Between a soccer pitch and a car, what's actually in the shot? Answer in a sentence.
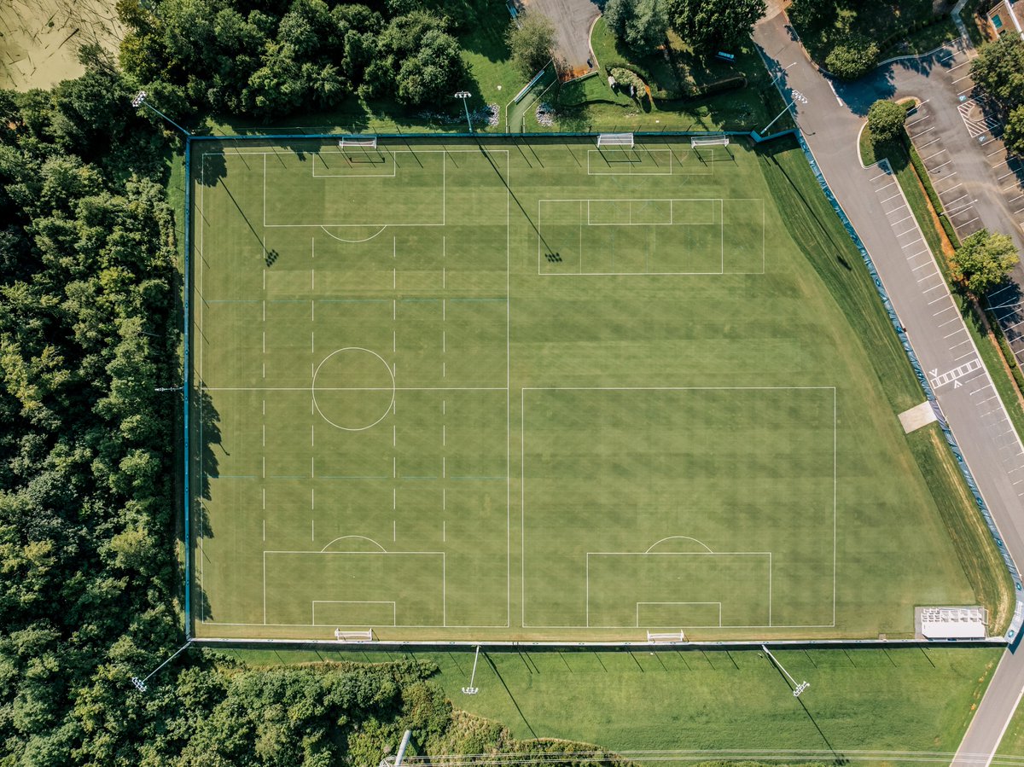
This aerial view contains a soccer pitch.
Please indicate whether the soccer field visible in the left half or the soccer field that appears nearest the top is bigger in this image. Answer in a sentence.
It is the soccer field visible in the left half that is larger, not the soccer field that appears nearest the top.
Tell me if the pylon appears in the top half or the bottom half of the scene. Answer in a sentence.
The pylon sits in the bottom half of the picture.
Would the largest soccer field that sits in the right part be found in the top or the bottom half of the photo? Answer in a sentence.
The largest soccer field that sits in the right part sits in the bottom half of the picture.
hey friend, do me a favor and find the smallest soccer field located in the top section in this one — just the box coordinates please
[537,147,765,276]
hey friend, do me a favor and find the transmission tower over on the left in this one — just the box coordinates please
[377,729,409,767]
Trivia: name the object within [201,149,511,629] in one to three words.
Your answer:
soccer field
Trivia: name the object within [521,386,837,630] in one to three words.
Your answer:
soccer field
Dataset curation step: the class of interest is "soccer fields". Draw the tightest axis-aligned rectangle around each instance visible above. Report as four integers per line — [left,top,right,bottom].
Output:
[537,147,765,276]
[201,149,511,629]
[521,386,837,630]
